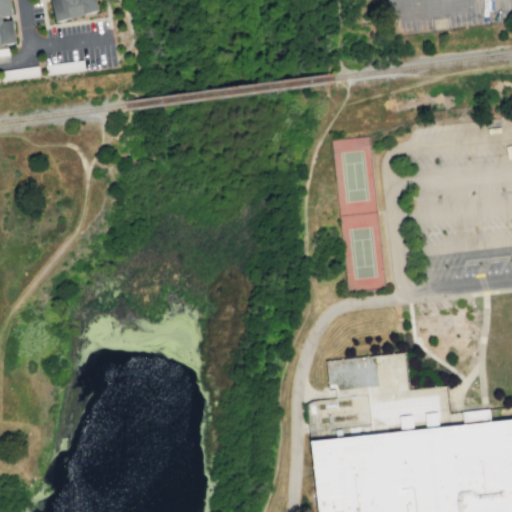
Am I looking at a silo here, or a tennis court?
tennis court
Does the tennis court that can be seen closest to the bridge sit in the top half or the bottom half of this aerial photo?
top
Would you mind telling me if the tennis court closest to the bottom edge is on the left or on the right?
right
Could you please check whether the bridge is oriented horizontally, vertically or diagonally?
horizontally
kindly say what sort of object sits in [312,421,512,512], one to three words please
building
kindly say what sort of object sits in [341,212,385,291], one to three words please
tennis court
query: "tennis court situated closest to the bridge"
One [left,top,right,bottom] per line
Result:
[334,138,378,215]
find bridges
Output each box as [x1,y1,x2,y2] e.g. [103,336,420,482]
[124,75,335,109]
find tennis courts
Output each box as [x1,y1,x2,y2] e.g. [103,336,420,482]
[341,212,385,291]
[334,138,378,215]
